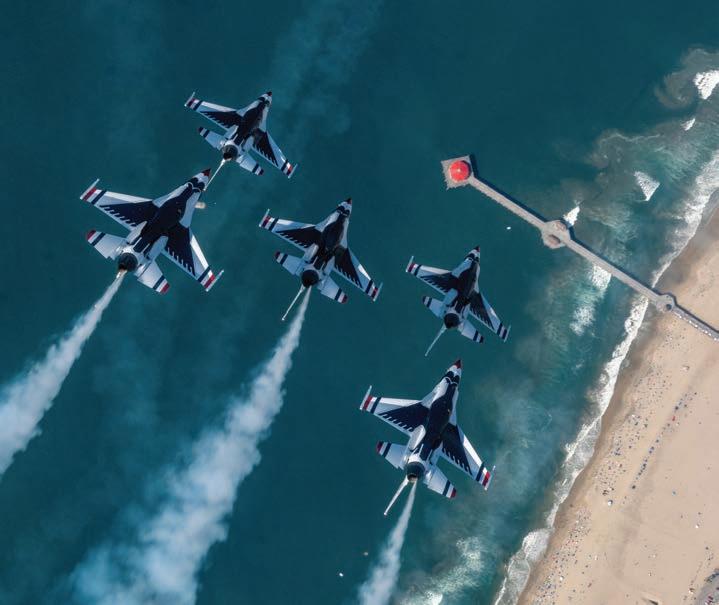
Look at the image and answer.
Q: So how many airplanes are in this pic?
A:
5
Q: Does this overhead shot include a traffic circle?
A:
No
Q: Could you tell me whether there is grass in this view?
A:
No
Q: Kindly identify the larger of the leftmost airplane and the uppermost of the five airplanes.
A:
the leftmost airplane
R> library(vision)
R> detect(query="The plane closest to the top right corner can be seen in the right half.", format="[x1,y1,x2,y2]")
[407,244,510,357]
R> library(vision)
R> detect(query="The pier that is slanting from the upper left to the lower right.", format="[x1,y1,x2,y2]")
[441,156,719,345]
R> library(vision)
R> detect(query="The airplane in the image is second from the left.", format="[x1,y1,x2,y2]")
[185,91,297,191]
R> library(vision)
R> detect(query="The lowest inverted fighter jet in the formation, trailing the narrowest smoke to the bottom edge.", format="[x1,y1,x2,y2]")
[360,358,494,514]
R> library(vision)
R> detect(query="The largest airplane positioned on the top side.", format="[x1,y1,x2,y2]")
[80,168,222,307]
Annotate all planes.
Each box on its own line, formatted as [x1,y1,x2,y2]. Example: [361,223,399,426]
[407,244,510,357]
[260,196,381,320]
[360,358,494,514]
[185,91,297,191]
[80,168,222,307]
